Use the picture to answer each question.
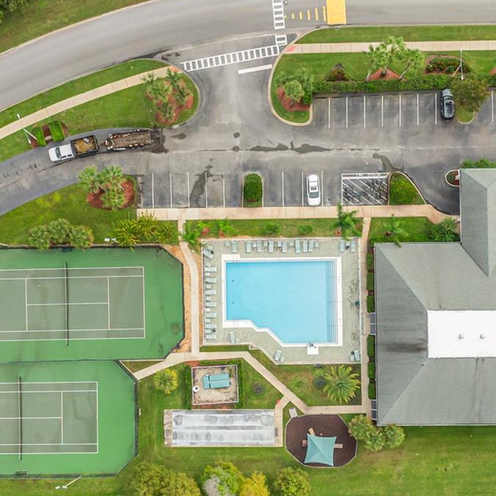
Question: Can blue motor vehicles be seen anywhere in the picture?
No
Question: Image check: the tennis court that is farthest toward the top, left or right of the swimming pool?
left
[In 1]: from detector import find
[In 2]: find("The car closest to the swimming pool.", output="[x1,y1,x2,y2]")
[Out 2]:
[307,172,320,205]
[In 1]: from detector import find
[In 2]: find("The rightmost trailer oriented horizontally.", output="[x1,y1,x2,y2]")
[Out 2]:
[100,128,162,150]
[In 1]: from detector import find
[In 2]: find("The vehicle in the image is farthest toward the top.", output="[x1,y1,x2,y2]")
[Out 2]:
[441,88,457,119]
